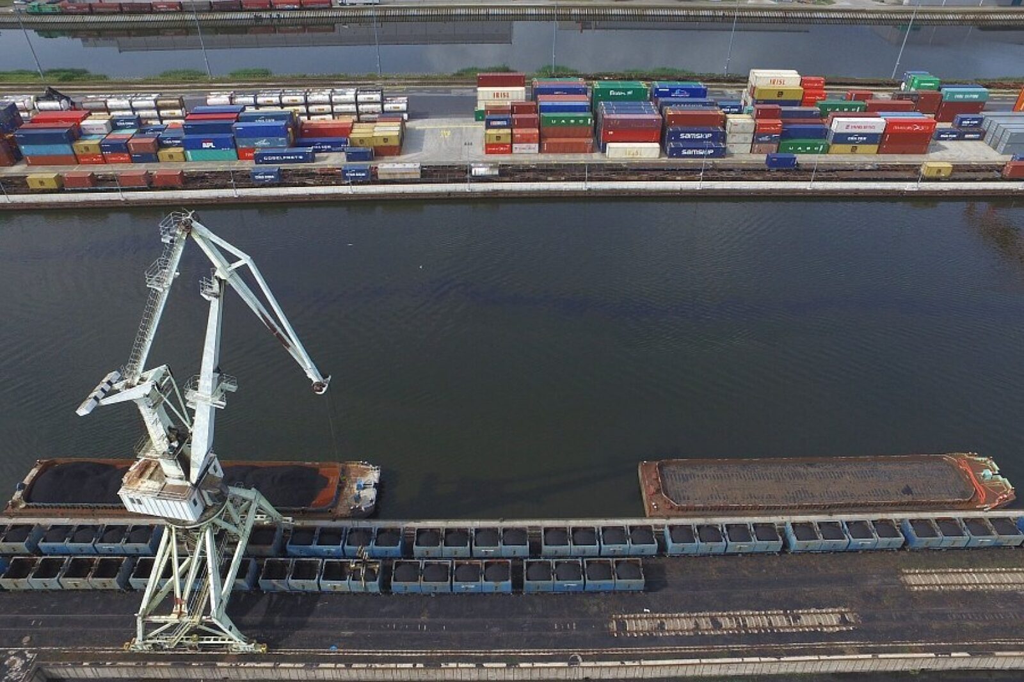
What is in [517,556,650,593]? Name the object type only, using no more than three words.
rail car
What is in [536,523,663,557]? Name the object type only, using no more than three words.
rail car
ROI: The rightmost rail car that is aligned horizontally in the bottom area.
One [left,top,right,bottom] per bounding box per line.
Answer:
[900,520,1024,555]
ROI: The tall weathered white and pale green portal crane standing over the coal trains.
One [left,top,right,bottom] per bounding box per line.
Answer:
[75,205,362,652]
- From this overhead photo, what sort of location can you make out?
port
